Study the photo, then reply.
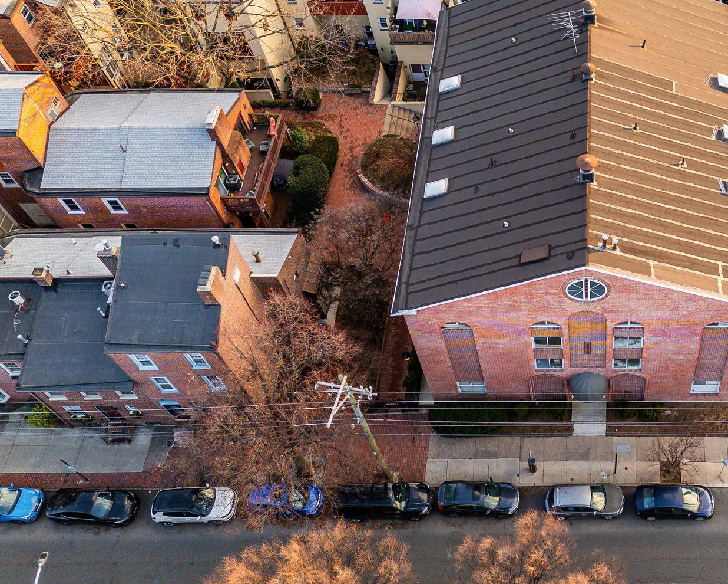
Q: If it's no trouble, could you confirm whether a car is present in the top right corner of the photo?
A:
No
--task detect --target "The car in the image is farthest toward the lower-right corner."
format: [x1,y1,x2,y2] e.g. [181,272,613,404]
[635,481,715,523]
